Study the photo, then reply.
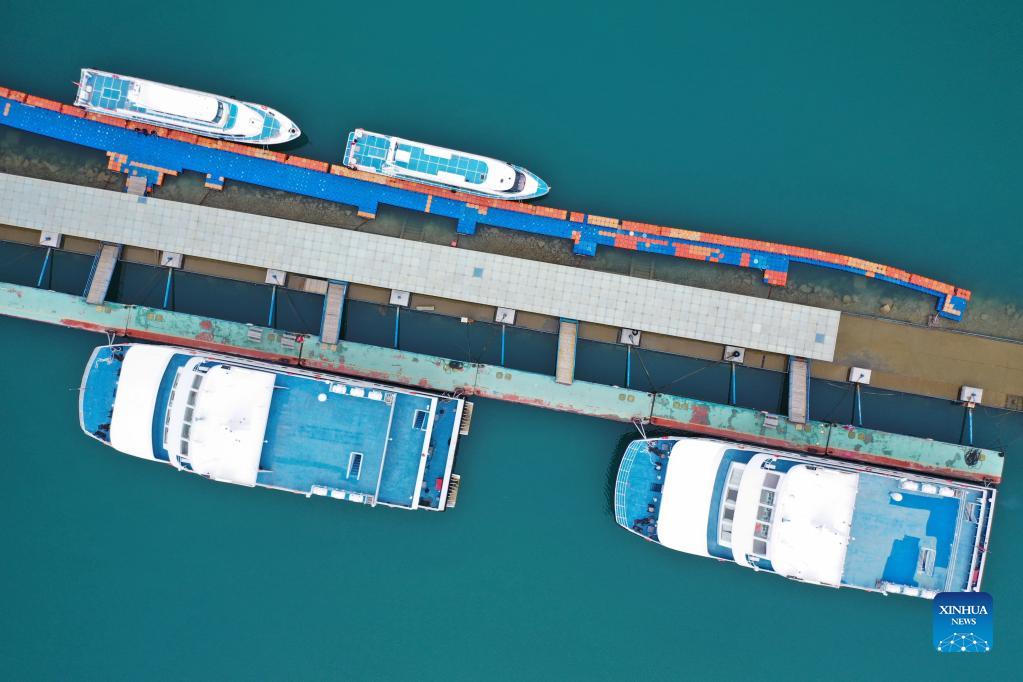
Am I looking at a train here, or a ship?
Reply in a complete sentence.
The image shows a ship.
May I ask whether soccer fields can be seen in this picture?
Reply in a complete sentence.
No, there is no soccer field in the image.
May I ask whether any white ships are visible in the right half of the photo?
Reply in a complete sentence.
Yes, the scene does show a white ship in the right half of the photo.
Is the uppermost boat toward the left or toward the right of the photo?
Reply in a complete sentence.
You can find the uppermost boat on the left side of the picture.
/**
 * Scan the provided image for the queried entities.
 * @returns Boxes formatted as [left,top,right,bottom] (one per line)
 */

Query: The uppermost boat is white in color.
[70,69,302,143]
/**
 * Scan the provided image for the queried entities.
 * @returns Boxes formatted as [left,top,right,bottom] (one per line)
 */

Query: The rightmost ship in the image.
[823,421,1001,482]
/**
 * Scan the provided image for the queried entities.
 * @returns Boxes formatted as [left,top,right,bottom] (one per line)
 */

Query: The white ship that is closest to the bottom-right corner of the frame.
[612,435,996,604]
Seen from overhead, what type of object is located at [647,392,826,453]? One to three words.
ship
